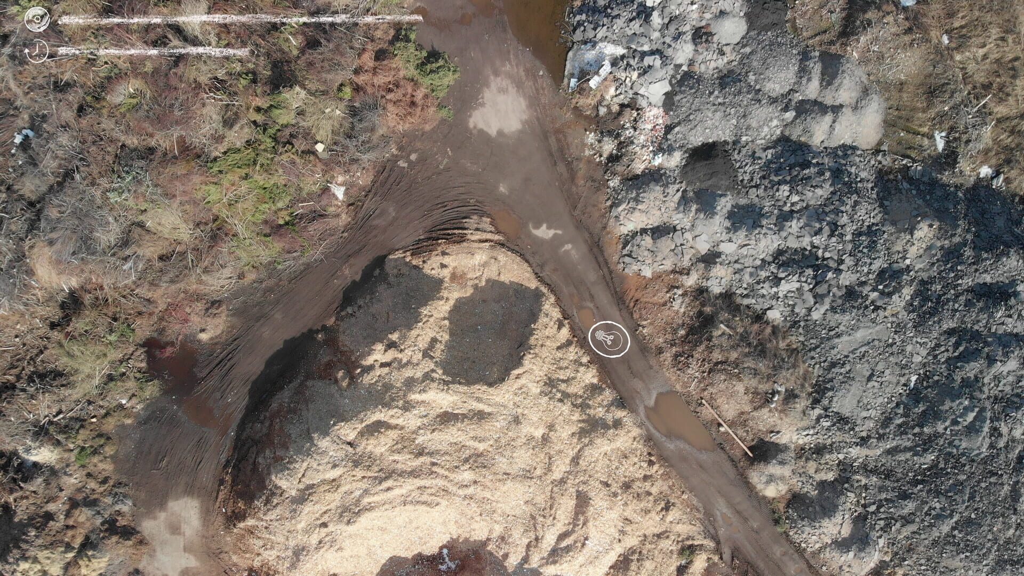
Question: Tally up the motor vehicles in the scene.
zero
